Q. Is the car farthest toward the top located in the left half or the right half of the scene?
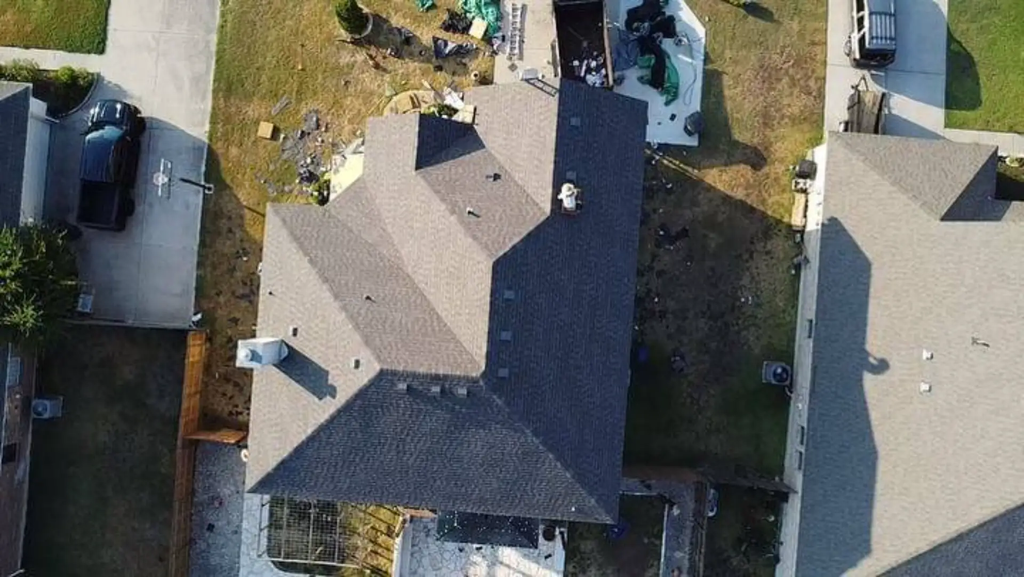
right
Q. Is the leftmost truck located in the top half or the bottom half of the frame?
top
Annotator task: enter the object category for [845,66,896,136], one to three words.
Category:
trailer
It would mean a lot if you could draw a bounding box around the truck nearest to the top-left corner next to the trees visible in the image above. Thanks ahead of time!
[73,96,140,229]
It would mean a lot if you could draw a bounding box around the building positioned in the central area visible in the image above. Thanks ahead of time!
[234,80,648,524]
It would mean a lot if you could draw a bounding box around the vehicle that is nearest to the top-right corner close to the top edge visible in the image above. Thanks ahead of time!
[852,0,910,67]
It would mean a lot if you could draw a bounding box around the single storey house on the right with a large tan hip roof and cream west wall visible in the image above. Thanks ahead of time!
[779,131,1024,577]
